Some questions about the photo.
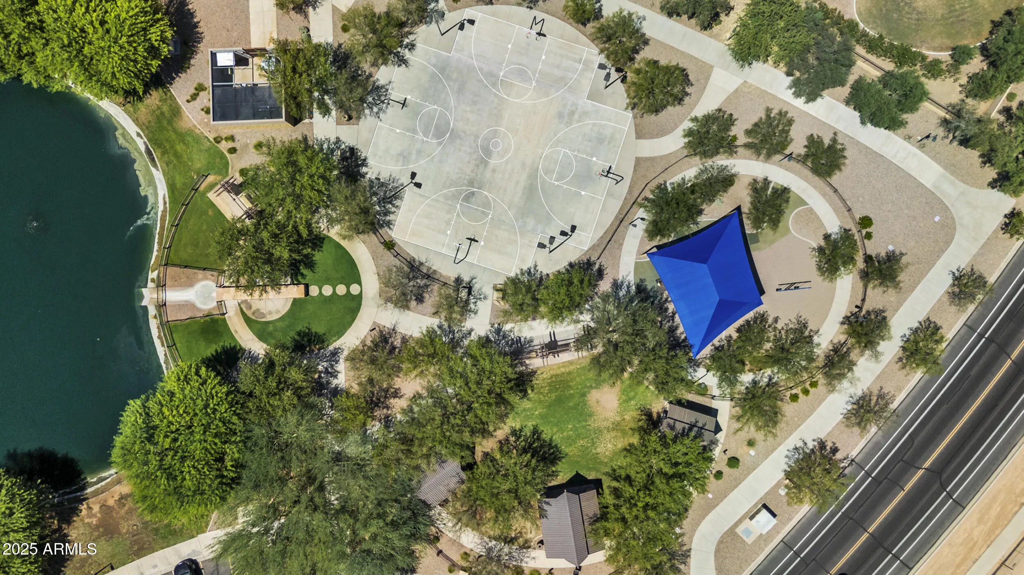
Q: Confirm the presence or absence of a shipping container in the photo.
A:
No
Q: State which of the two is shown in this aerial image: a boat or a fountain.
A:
fountain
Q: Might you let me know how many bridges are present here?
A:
none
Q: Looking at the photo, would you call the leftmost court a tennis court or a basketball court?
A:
basketball court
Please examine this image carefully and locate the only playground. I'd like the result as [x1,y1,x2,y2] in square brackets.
[634,175,837,377]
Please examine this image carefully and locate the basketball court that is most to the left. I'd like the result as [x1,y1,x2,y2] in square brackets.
[357,4,635,282]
